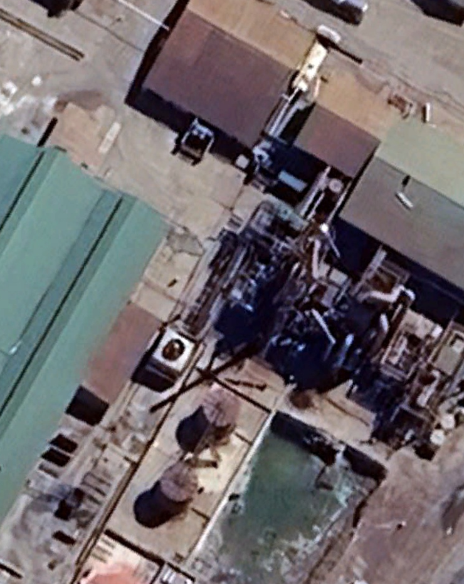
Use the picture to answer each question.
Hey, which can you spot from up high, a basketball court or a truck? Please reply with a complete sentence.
There is a truck in the scene.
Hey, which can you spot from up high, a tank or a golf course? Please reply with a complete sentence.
It is a tank that can be seen here.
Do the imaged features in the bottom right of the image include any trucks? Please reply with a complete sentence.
No, no truck appears in the bottom right of the image.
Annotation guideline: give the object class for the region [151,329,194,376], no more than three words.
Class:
storage tank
